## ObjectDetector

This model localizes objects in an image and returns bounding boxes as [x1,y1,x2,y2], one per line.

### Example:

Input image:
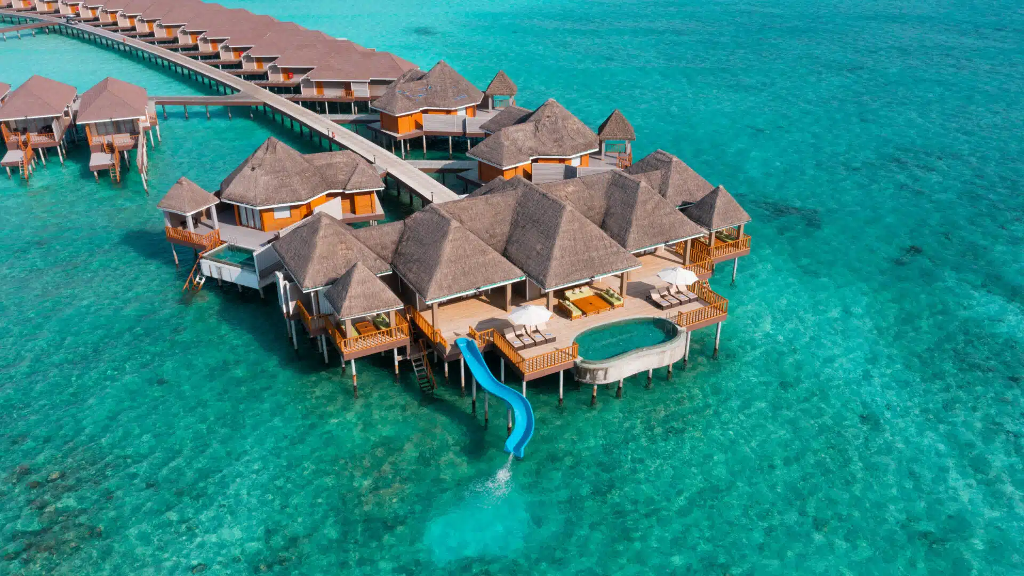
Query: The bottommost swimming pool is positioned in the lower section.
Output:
[570,306,686,419]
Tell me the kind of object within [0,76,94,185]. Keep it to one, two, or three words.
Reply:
house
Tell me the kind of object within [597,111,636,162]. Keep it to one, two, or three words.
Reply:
gazebo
